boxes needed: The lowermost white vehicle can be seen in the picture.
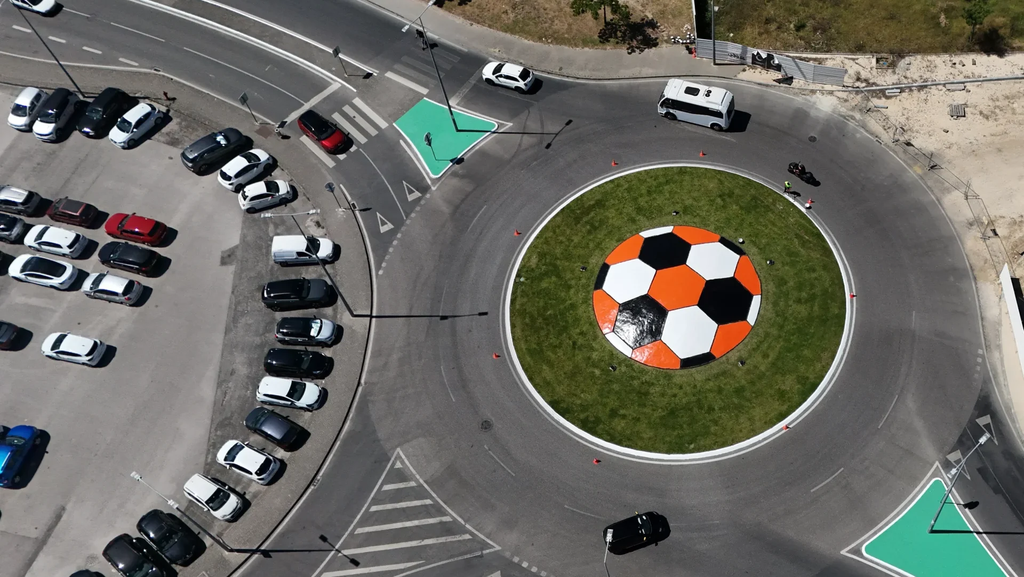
[176,467,242,523]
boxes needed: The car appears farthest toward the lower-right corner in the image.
[603,509,675,554]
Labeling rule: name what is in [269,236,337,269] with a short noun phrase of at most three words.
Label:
vehicle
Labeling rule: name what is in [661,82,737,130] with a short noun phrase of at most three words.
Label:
vehicle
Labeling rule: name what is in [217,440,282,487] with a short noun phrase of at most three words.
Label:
car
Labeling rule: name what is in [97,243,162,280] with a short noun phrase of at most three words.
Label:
car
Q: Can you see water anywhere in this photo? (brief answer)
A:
No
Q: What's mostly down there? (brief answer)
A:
paved ground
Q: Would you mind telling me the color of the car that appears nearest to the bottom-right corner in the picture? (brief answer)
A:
black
